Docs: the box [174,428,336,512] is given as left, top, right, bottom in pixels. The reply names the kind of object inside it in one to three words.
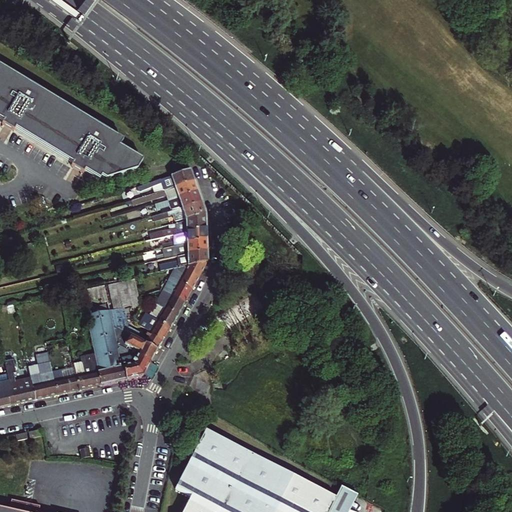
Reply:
building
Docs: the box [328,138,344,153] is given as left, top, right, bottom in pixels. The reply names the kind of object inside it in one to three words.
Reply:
vehicle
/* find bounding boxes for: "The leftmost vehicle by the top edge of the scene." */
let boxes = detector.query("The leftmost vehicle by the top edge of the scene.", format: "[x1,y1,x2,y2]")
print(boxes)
[52,0,86,24]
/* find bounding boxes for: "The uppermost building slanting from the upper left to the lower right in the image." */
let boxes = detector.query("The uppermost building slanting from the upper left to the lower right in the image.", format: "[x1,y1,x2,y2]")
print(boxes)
[0,62,144,179]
